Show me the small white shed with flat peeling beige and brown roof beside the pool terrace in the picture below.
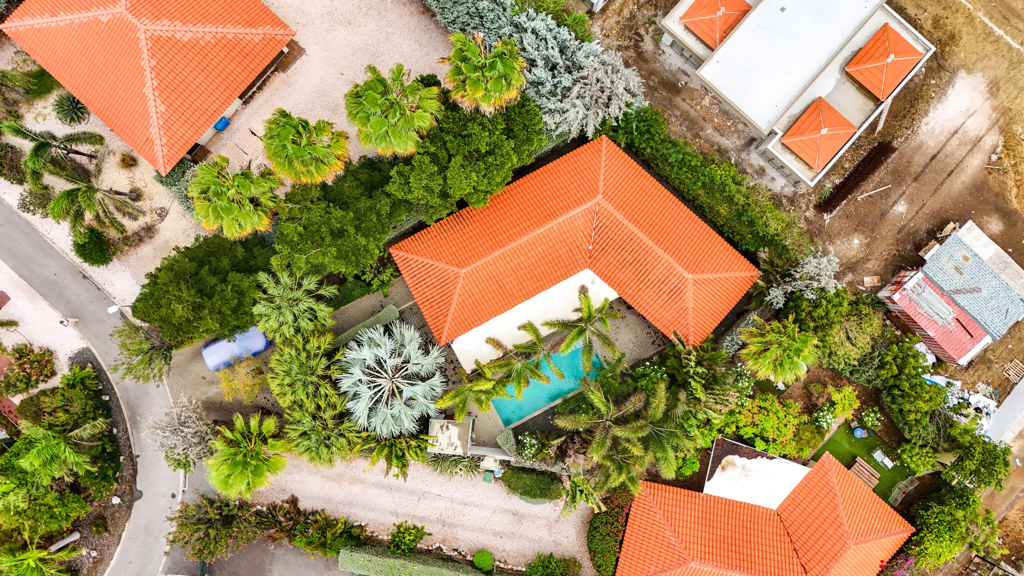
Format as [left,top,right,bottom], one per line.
[427,414,473,456]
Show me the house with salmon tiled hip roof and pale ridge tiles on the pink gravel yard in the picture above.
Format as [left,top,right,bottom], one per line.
[0,0,308,177]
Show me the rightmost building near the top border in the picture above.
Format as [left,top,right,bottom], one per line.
[658,0,936,188]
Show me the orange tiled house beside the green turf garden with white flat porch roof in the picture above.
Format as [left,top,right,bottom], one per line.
[616,437,919,576]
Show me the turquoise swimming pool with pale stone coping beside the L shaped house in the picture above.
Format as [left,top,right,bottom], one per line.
[475,326,612,435]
